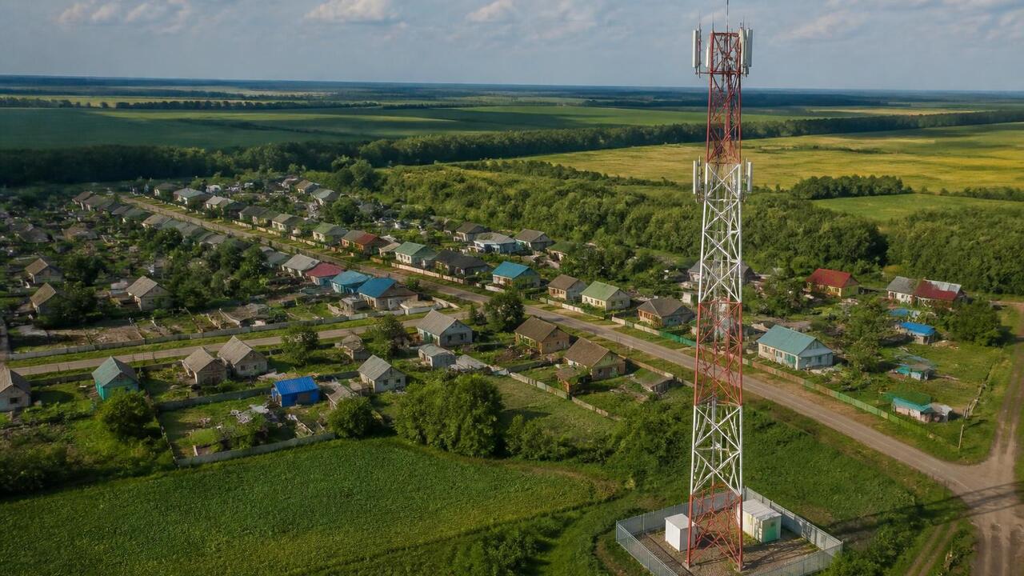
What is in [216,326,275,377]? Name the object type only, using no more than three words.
house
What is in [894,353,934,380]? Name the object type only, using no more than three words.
shed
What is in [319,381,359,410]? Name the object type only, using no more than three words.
shed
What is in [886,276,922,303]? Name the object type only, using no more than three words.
house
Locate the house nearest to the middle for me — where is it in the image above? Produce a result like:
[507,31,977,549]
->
[491,258,542,287]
